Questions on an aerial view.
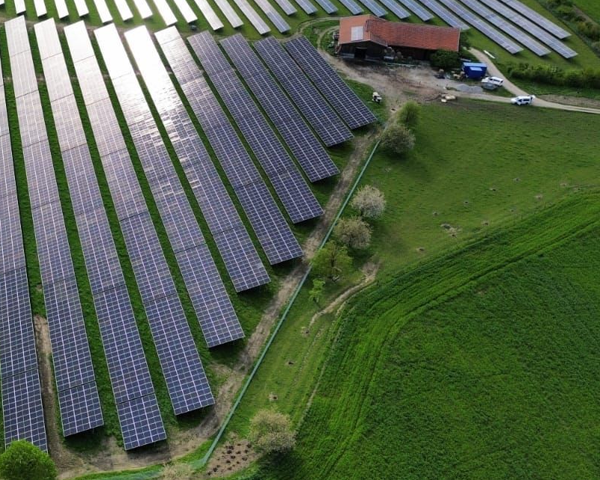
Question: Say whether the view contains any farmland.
Yes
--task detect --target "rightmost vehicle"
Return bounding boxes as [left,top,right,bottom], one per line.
[510,95,539,107]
